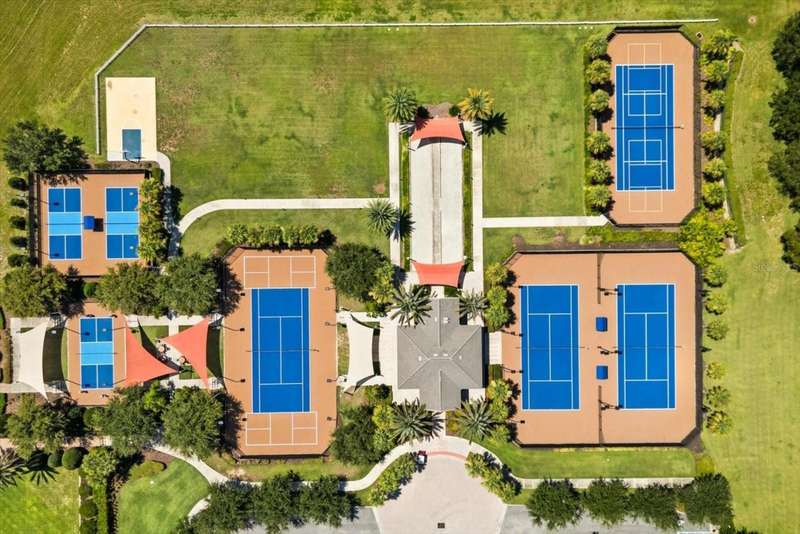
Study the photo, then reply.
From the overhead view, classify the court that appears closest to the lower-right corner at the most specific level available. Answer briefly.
tennis court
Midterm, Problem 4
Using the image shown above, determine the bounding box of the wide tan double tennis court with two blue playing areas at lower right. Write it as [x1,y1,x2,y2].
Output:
[502,252,697,444]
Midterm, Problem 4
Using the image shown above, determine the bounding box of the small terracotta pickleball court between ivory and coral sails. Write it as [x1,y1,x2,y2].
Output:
[66,303,125,404]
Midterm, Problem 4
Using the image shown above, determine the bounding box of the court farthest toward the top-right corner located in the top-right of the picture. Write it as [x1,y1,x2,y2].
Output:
[609,33,695,223]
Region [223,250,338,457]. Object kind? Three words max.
tennis court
